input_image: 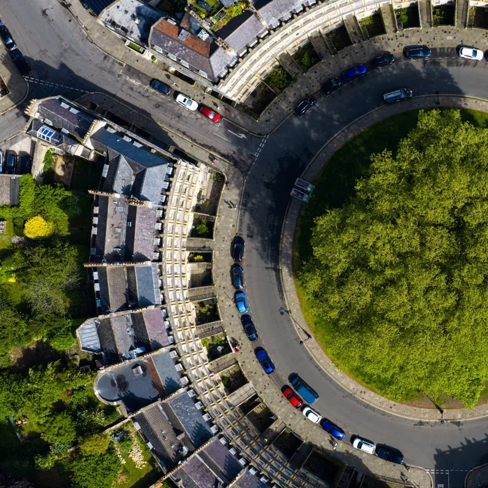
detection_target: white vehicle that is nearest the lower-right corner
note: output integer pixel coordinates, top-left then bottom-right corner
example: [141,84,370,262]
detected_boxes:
[351,437,376,454]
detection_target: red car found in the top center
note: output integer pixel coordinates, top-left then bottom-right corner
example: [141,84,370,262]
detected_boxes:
[197,104,223,124]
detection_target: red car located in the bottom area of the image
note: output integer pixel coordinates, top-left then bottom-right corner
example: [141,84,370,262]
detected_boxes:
[282,387,302,408]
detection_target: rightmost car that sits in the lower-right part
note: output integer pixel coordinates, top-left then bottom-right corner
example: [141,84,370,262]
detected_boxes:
[376,446,403,461]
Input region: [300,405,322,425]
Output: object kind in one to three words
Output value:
car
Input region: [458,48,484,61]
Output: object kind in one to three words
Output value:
vehicle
